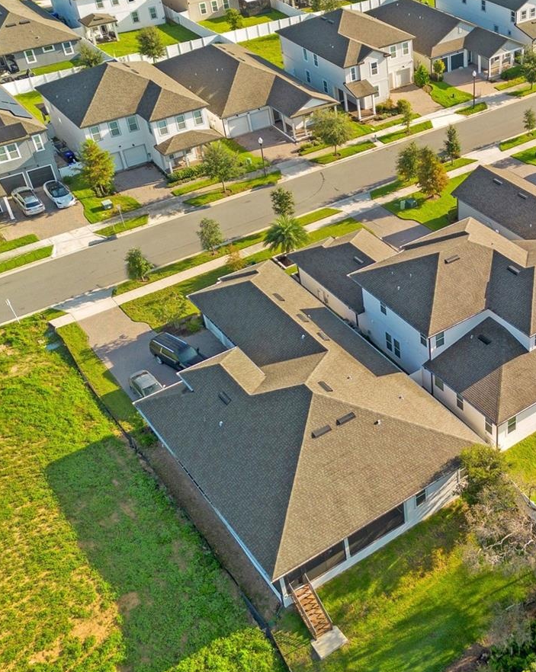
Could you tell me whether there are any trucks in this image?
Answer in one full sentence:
No, there's no truck here.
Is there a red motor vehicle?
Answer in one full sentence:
No, there isn't any red motor vehicle down there.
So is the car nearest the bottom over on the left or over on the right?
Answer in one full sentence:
The car nearest the bottom is on the left side of the image.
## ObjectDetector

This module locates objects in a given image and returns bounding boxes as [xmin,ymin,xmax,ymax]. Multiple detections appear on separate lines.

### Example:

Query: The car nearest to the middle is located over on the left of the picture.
[144,322,201,381]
